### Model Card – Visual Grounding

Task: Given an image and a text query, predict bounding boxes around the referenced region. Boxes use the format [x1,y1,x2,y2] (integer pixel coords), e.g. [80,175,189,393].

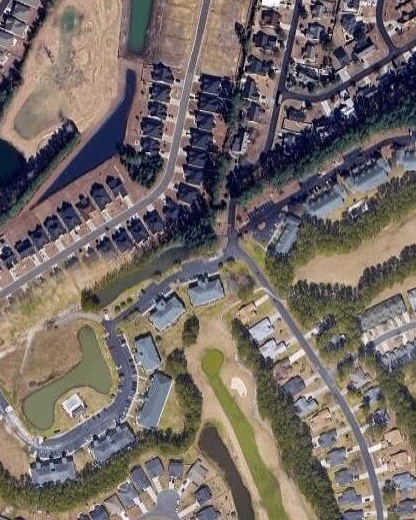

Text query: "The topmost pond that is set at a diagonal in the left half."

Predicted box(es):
[30,66,136,210]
